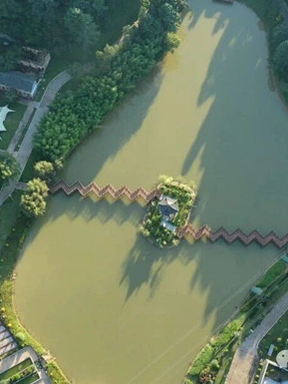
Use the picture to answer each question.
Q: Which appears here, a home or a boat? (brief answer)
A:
home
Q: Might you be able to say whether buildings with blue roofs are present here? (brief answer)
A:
Yes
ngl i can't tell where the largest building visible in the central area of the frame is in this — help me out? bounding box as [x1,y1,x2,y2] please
[157,197,180,221]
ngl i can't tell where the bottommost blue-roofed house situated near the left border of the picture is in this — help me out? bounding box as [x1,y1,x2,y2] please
[0,69,37,97]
